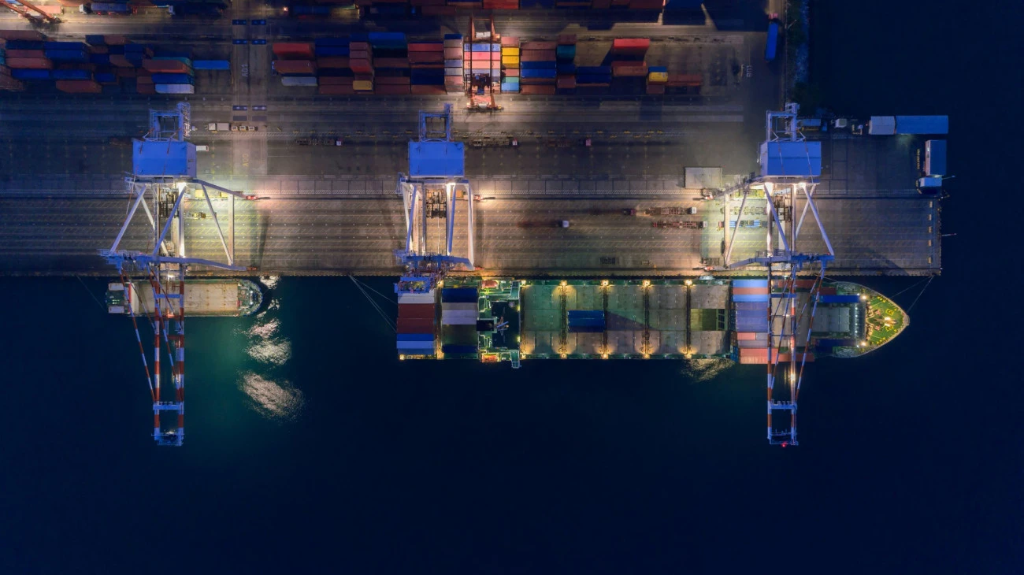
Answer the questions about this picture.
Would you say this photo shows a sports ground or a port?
port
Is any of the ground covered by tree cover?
No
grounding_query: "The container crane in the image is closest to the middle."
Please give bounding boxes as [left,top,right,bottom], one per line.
[387,97,487,303]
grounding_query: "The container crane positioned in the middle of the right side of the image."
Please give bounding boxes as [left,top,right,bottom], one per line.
[703,97,837,446]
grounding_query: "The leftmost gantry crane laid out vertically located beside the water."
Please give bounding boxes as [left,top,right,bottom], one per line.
[102,97,258,445]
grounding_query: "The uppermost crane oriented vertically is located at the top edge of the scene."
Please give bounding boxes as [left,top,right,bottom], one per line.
[461,12,504,113]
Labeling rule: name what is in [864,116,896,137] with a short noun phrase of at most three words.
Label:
shed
